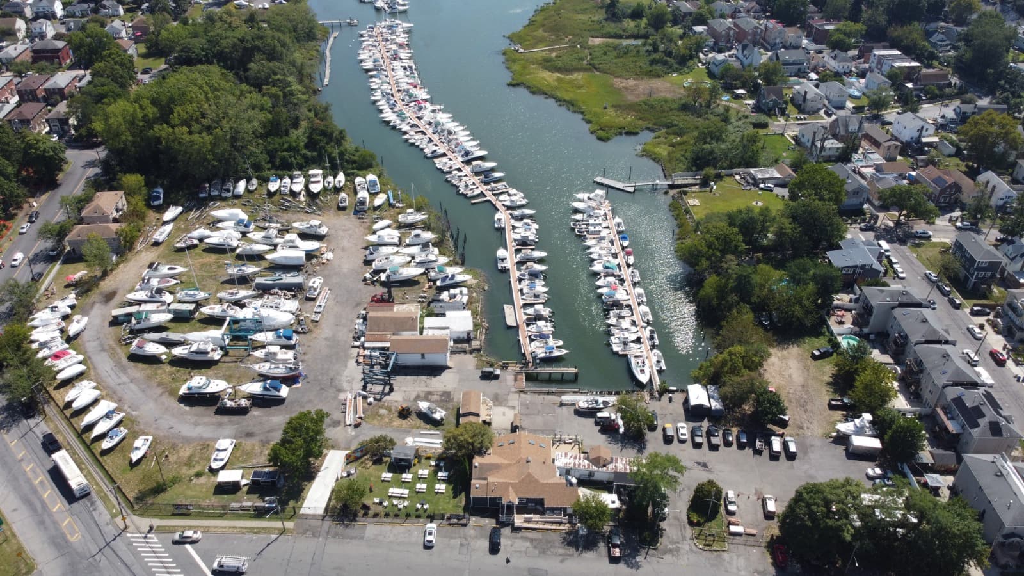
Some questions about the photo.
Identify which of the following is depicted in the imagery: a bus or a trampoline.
bus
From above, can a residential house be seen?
Yes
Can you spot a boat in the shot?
Yes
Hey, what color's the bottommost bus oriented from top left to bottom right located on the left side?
white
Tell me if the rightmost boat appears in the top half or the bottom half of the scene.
bottom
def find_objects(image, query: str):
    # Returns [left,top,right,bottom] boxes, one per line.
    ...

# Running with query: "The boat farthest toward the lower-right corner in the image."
[837,413,874,438]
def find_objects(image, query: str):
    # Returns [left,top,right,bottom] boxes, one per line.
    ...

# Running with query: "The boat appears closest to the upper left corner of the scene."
[150,186,164,208]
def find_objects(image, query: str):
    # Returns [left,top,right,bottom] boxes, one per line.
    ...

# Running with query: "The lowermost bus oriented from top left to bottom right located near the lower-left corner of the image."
[51,446,92,499]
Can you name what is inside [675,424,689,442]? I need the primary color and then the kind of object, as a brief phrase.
white car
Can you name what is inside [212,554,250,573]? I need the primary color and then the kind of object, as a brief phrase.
white vehicle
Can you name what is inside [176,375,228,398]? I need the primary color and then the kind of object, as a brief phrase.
white boat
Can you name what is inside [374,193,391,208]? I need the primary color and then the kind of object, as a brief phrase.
white boat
